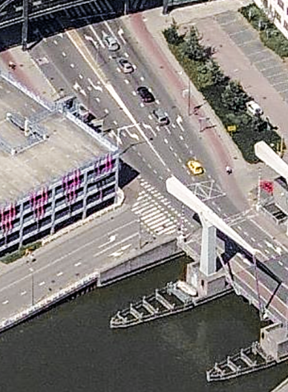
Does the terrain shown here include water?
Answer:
Yes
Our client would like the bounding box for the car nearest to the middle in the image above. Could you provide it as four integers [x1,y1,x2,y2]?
[188,160,203,175]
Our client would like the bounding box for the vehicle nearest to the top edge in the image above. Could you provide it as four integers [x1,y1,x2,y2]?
[103,36,118,51]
